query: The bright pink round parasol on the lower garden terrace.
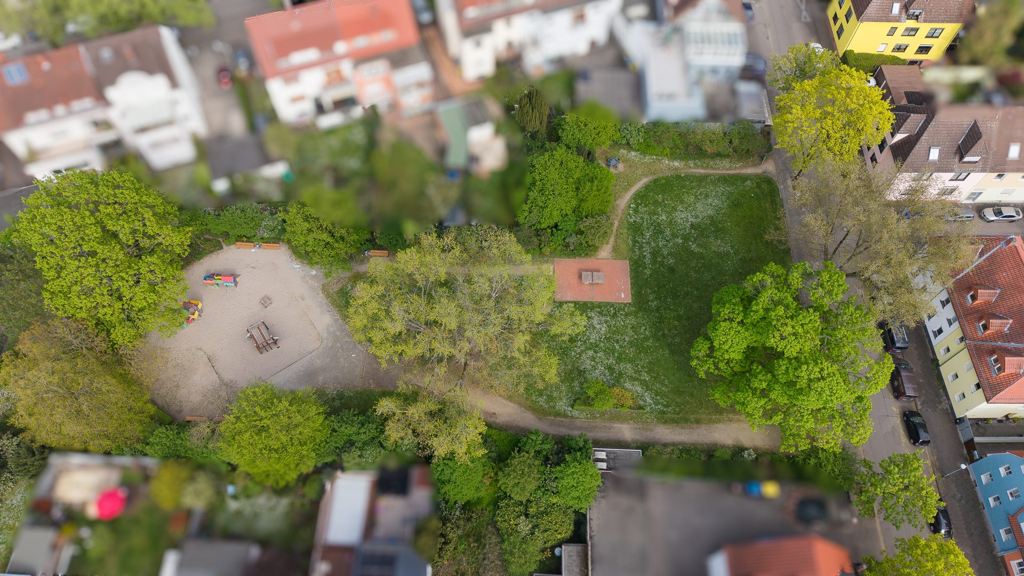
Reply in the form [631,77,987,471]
[83,492,113,523]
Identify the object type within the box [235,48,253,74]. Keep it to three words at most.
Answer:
car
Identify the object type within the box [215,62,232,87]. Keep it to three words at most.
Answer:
car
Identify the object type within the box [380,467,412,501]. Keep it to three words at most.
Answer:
shed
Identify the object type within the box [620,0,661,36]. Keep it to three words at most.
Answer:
building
